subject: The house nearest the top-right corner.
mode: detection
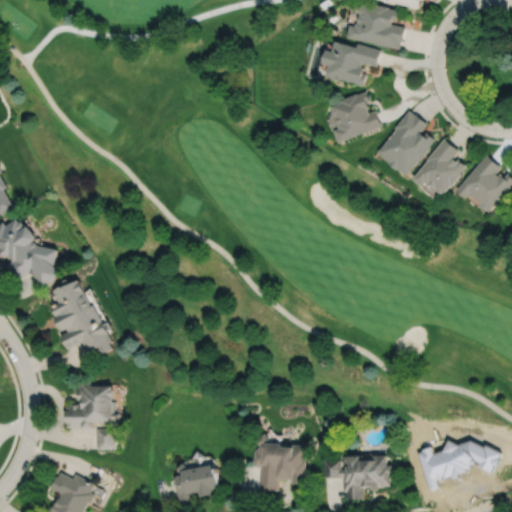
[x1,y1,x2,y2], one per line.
[347,6,406,52]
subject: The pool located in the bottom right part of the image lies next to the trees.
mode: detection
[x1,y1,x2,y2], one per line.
[365,429,386,447]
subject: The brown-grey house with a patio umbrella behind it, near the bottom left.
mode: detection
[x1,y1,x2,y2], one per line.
[54,472,96,512]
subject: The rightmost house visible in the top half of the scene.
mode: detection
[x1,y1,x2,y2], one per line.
[457,154,512,213]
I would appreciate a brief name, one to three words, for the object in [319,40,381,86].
house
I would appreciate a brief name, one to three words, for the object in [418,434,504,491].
house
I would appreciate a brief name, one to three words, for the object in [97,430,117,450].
building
